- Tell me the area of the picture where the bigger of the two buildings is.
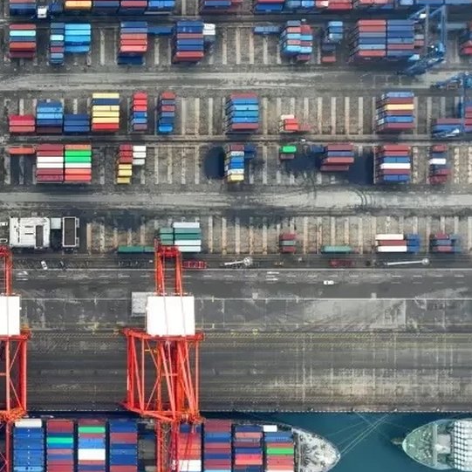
left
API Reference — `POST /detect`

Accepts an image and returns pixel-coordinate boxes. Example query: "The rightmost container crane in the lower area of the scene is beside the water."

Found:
[116,245,206,472]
